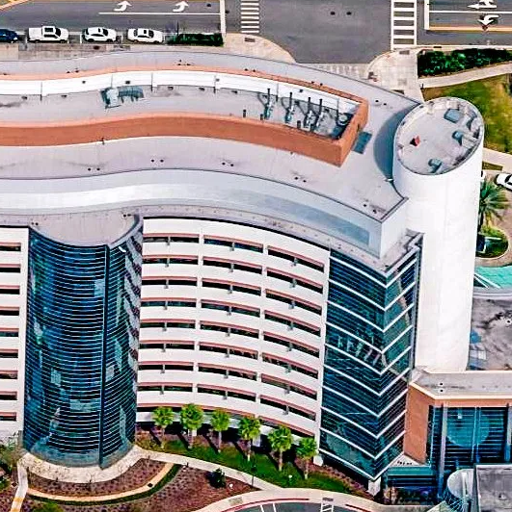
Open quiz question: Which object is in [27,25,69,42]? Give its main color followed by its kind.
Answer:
white vehicle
